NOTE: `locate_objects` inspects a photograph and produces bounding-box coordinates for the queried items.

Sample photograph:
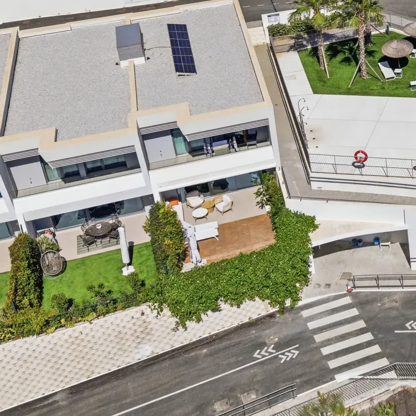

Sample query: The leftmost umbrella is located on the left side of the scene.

[119,230,136,274]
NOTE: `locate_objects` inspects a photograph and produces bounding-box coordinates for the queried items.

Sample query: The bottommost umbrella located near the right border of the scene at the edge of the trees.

[381,32,416,68]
